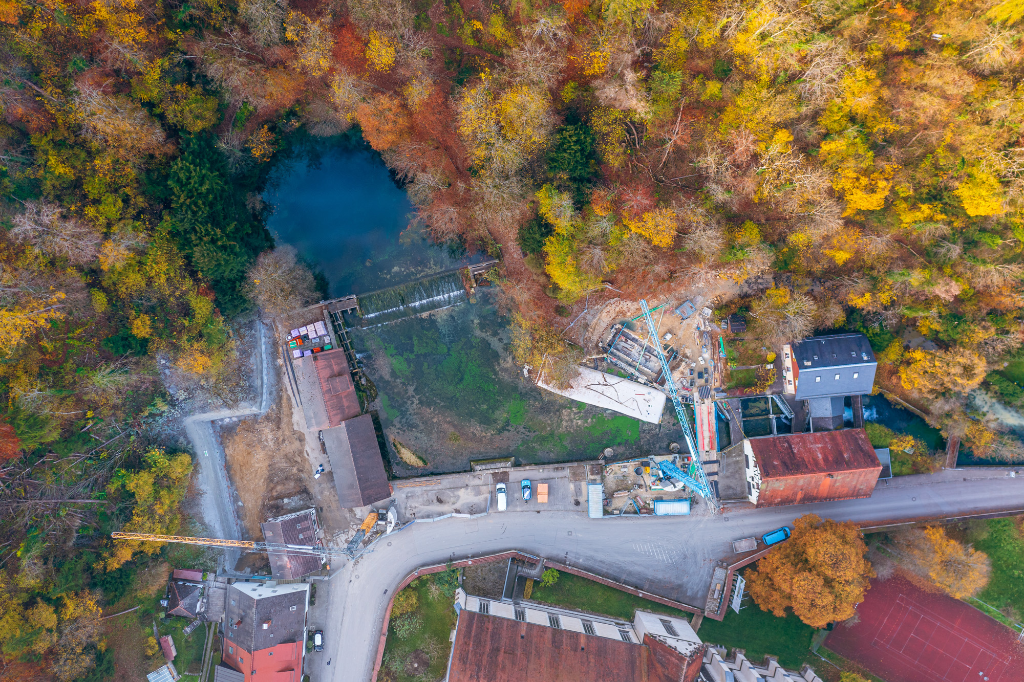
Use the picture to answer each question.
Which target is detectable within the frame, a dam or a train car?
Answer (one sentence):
I can see a dam in this picture.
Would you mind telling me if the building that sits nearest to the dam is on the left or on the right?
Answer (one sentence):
It is on the left.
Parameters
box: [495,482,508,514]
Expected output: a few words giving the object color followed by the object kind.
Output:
white vehicle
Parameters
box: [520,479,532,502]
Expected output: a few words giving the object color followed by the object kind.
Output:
blue vehicle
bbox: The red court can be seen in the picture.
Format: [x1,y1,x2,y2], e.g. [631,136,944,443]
[824,569,1024,682]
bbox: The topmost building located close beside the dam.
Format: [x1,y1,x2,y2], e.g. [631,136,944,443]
[293,347,363,430]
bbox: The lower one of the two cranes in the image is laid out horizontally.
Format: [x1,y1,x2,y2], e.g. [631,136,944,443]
[111,487,399,569]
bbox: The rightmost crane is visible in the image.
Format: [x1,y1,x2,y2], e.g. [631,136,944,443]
[638,300,716,534]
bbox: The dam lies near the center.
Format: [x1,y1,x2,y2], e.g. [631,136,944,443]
[355,266,469,332]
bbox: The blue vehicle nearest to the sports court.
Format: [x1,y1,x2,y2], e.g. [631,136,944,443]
[761,528,791,547]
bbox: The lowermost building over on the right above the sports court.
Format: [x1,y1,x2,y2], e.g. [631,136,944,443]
[744,428,883,508]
